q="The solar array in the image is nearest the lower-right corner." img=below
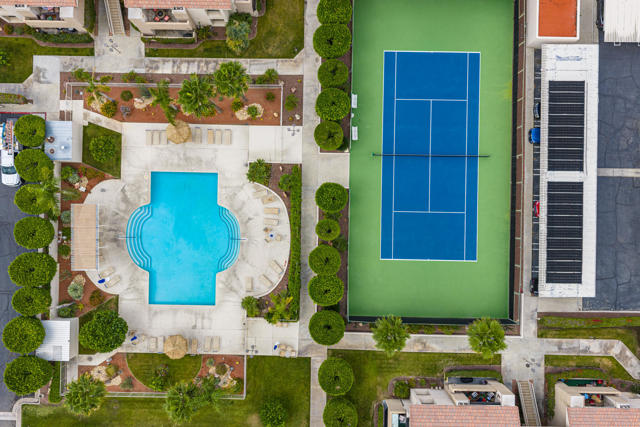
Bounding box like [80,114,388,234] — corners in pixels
[546,182,583,283]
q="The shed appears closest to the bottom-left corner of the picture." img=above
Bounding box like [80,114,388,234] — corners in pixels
[41,314,79,362]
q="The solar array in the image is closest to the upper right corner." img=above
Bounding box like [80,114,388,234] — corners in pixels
[548,81,585,174]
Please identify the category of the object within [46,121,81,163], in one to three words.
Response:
shed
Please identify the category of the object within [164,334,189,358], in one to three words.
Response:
umbrella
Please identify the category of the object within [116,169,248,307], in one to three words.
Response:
swimming pool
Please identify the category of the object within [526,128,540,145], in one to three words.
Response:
vehicle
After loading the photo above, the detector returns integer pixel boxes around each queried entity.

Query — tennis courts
[348,0,514,318]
